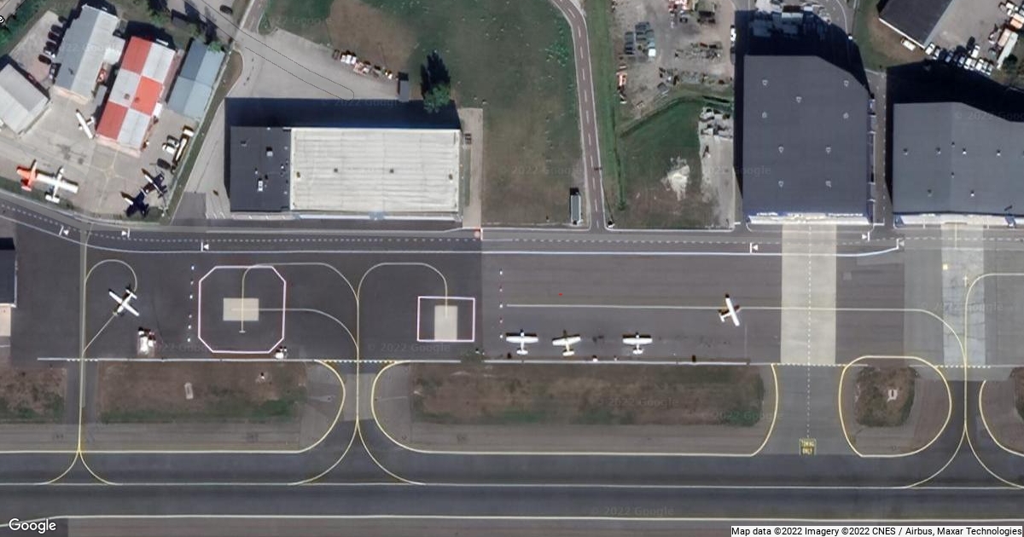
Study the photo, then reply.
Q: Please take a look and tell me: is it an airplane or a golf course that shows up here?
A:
airplane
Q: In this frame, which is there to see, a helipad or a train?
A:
helipad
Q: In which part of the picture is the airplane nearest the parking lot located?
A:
top left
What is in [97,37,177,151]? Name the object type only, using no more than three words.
hangar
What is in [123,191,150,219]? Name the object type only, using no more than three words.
airplane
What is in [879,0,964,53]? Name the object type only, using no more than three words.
building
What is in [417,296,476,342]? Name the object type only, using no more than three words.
helipad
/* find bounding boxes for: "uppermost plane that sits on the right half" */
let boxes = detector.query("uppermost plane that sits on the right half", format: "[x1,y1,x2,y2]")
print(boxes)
[717,297,740,325]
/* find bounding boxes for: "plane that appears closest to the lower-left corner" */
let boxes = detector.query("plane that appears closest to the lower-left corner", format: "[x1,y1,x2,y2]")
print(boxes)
[108,285,139,313]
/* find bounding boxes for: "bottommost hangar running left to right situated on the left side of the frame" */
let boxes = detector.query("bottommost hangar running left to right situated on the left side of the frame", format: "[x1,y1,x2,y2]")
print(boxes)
[230,127,465,220]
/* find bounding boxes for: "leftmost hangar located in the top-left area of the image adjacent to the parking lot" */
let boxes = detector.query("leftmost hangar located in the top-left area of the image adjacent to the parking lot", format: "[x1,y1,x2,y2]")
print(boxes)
[0,61,50,136]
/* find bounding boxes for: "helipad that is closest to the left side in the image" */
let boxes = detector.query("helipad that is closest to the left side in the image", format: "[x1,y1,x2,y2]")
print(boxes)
[198,265,286,353]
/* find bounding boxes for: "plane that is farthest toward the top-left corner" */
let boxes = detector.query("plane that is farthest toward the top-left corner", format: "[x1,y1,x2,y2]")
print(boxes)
[75,113,99,138]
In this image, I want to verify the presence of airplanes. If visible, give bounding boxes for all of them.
[123,191,150,219]
[552,335,581,358]
[717,297,740,325]
[38,174,78,204]
[506,332,538,356]
[75,113,99,138]
[622,335,652,357]
[108,285,139,313]
[18,167,47,191]
[140,171,167,198]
